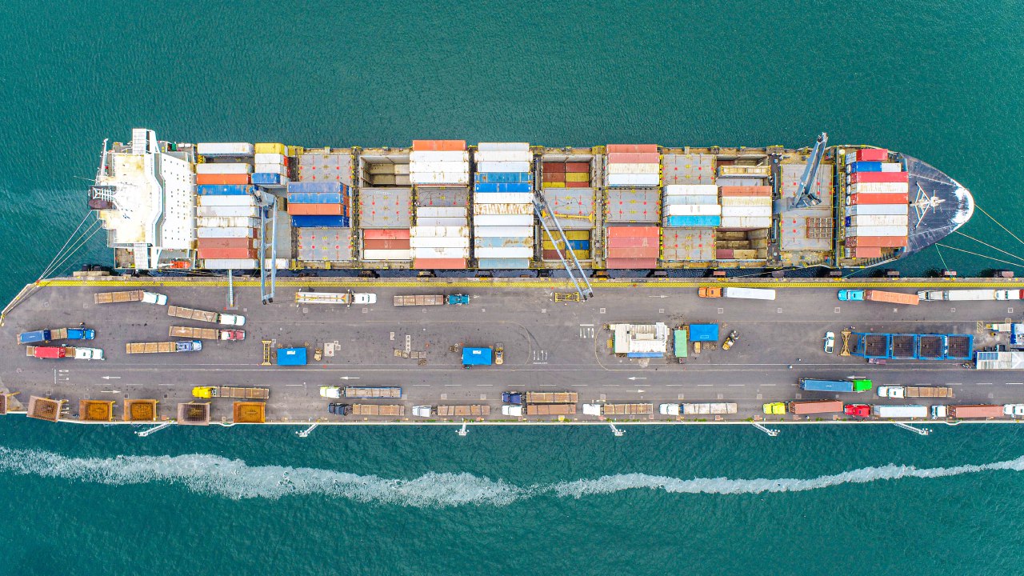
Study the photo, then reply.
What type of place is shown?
port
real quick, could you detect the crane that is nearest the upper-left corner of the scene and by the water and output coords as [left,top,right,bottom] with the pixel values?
[258,190,288,306]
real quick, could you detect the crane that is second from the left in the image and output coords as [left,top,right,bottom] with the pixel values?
[529,188,592,302]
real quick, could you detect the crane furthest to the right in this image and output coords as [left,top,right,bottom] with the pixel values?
[772,129,826,216]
